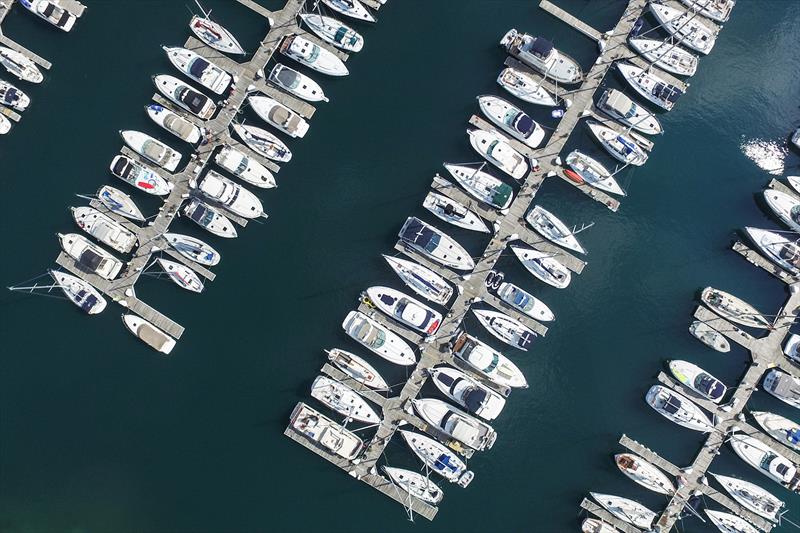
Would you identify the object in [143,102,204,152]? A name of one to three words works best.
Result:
boat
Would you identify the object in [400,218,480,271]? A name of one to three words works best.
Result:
boat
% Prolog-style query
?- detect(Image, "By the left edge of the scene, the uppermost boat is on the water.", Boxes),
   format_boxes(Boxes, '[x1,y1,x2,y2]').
[12,0,76,31]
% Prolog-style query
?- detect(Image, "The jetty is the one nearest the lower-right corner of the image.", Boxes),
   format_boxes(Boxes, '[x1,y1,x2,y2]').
[580,178,800,533]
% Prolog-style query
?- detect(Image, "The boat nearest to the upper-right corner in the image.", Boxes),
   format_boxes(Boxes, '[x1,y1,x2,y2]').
[687,0,737,22]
